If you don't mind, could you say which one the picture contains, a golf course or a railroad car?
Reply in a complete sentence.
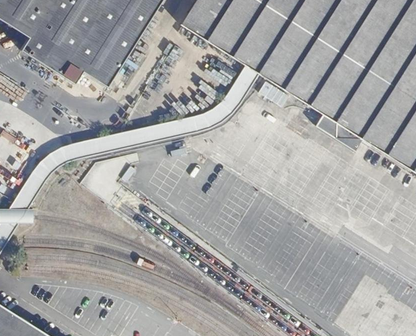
Looking from above, you can make out a railroad car.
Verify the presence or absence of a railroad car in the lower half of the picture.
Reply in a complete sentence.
Yes, a railroad car is visible in the lower half of the picture.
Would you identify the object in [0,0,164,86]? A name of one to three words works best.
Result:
building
